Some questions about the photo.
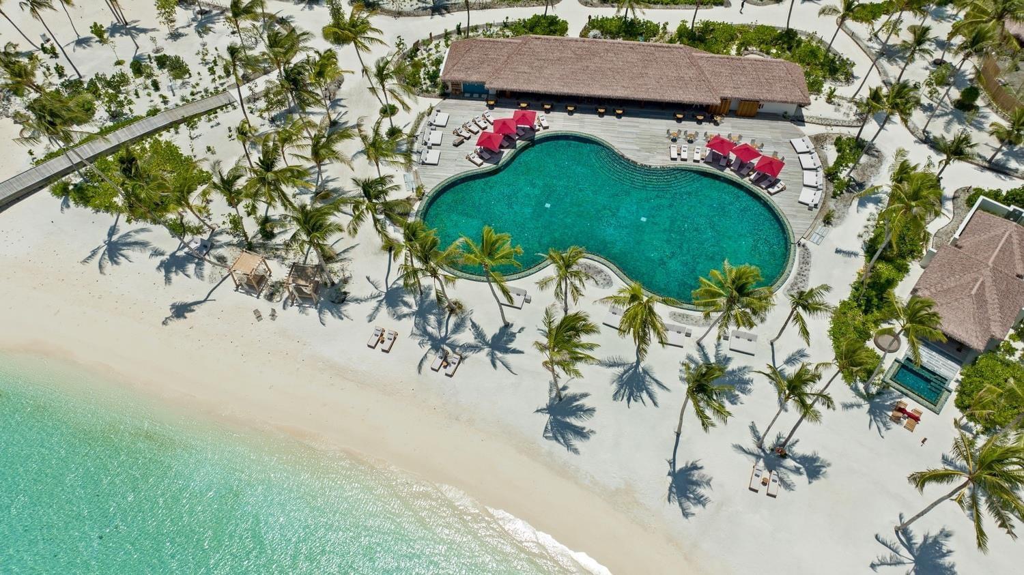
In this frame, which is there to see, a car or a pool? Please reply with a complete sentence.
Visible in the photo is a pool.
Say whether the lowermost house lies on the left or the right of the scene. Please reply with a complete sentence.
The lowermost house appears in the right half of the scene.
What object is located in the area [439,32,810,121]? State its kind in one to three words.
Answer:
building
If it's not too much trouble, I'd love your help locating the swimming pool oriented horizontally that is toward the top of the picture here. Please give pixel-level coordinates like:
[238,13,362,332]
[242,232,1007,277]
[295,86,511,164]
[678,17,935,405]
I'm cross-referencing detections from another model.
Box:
[414,130,796,313]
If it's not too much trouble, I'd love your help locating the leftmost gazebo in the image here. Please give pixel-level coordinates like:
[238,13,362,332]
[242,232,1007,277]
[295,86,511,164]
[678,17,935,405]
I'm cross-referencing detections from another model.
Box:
[227,248,271,291]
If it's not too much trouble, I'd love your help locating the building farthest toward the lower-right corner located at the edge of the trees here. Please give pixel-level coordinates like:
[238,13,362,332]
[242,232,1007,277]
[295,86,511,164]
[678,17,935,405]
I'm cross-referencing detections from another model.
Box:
[900,198,1024,380]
